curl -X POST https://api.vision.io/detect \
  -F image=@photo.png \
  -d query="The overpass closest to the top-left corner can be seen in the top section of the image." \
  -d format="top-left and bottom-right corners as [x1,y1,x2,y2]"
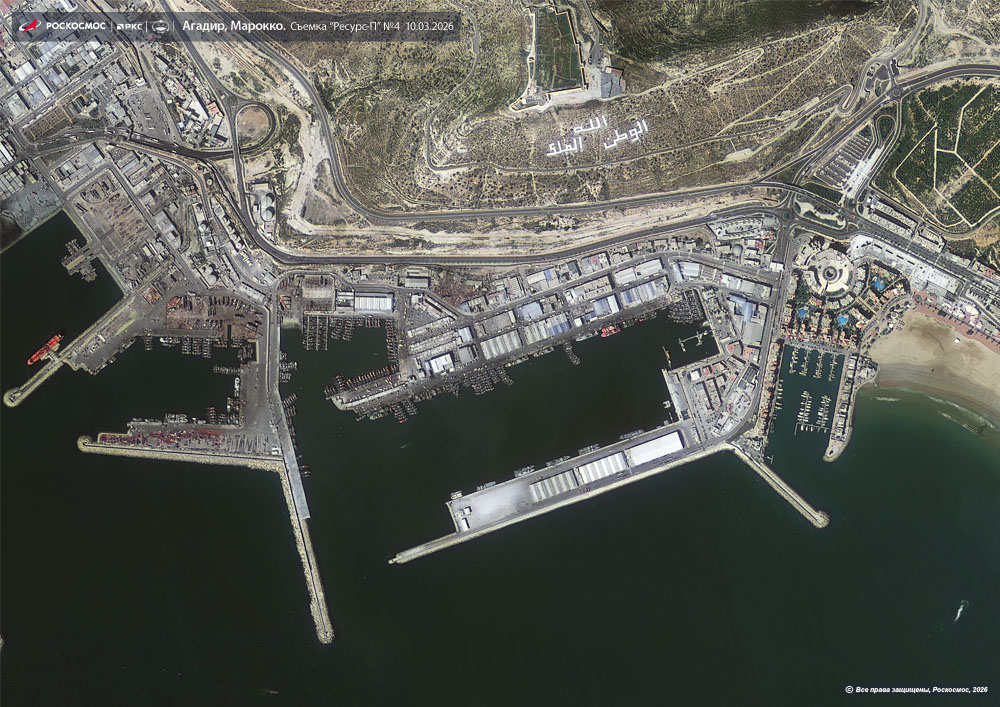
[111,132,251,158]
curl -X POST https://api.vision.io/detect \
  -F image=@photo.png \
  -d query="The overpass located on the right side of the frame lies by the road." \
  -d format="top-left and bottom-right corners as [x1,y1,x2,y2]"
[736,181,867,225]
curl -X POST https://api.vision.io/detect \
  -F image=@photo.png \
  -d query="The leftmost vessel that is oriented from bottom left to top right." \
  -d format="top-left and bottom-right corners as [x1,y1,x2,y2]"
[26,333,64,364]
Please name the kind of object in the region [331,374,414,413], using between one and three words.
pier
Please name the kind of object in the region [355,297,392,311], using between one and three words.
building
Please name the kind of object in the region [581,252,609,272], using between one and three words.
building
